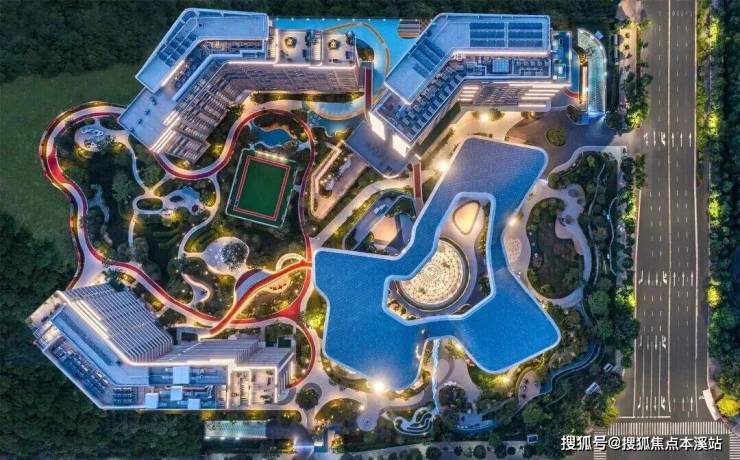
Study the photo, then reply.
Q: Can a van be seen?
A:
No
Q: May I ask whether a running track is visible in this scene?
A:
Yes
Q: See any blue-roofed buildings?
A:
Yes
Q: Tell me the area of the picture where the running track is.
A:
left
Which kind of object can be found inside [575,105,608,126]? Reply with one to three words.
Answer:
swimming pool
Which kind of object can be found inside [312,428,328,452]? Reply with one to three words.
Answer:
building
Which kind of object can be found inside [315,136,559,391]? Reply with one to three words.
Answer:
building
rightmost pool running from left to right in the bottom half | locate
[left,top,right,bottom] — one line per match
[454,418,502,433]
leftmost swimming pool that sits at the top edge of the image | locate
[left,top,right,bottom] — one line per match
[270,16,436,103]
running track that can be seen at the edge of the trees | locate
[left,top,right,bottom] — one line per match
[42,104,317,386]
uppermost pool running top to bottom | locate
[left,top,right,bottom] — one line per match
[569,47,581,95]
